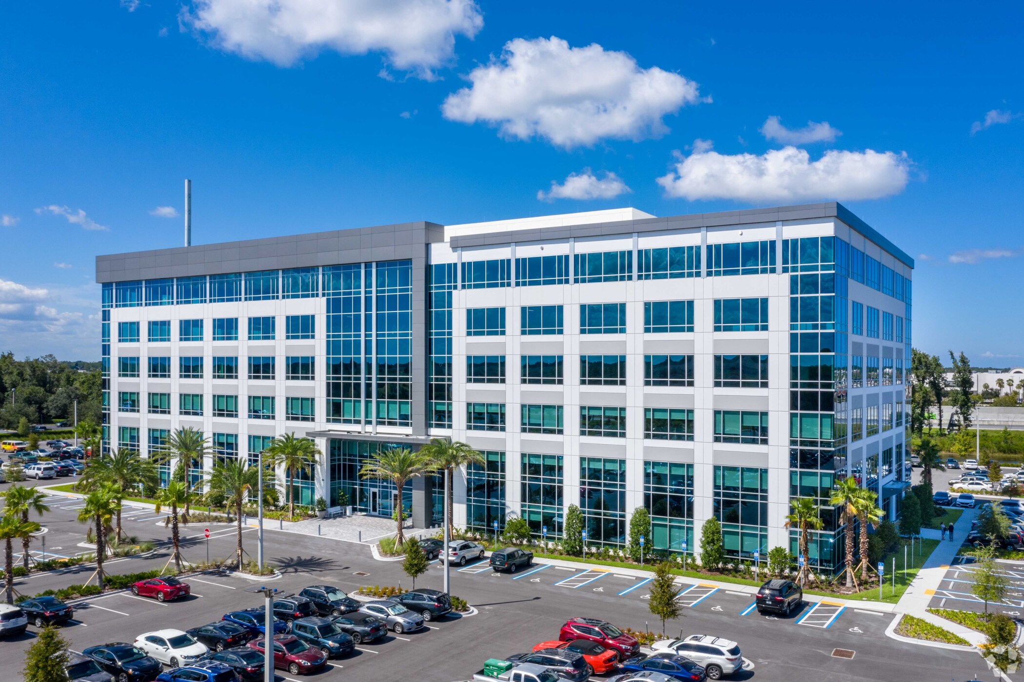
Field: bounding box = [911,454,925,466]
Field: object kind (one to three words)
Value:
vehicle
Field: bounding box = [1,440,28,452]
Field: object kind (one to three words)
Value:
vehicle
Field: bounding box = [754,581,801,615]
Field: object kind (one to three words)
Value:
car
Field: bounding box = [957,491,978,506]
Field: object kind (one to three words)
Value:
car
